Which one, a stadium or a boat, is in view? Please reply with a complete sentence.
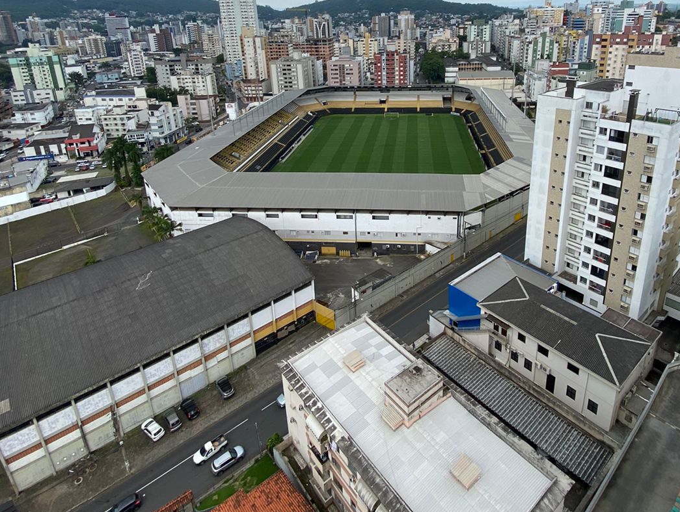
Looking from above, you can make out a stadium.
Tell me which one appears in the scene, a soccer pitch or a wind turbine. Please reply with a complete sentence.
There is a soccer pitch in the scene.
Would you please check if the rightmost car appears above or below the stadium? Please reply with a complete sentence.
Looking at the scene, the rightmost car is located below the stadium.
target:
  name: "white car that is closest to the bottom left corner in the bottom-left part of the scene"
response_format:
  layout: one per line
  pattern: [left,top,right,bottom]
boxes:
[139,420,166,445]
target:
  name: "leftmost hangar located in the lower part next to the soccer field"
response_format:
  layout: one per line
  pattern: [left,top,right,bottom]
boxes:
[0,212,322,493]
